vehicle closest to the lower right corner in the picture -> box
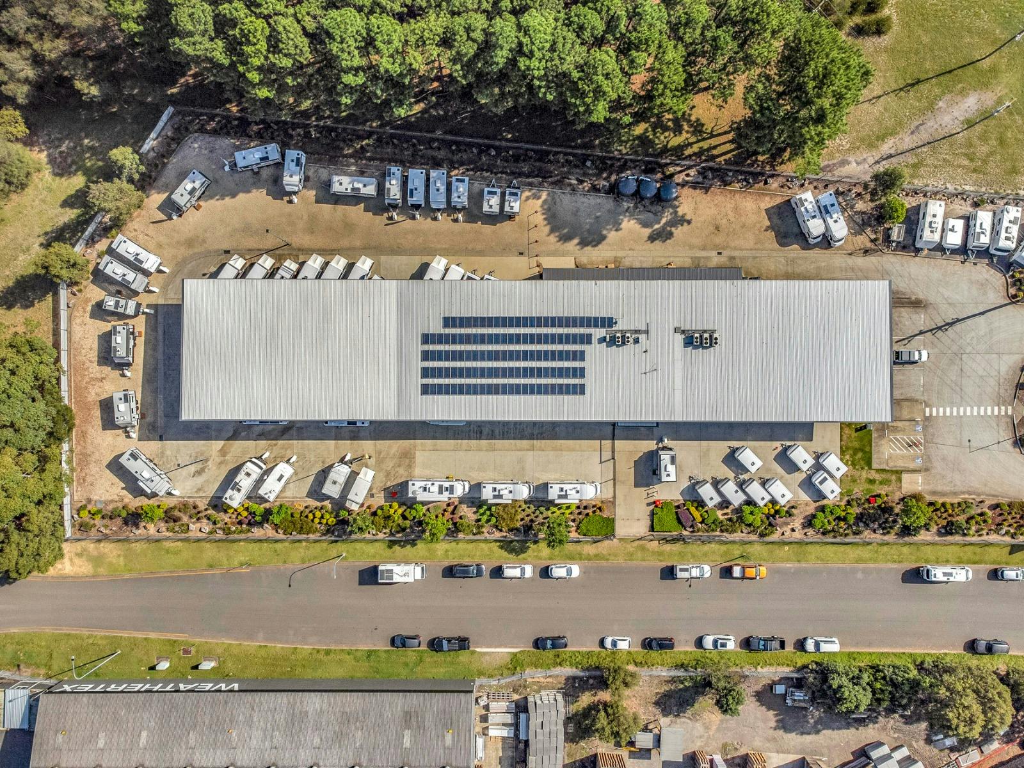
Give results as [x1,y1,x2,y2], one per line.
[974,638,1010,654]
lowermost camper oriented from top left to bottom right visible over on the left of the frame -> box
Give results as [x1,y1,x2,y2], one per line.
[120,445,183,497]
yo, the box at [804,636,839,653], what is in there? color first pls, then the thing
white car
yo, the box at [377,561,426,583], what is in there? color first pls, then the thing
white truck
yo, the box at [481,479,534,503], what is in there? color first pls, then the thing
white camper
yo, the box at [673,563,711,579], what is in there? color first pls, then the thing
white vehicle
